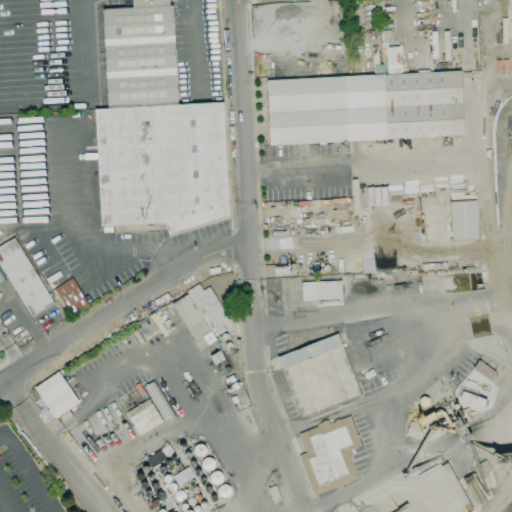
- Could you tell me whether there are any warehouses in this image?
Yes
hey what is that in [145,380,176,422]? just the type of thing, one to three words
shed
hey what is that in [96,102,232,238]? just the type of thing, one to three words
warehouse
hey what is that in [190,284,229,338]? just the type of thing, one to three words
building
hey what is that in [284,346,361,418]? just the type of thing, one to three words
building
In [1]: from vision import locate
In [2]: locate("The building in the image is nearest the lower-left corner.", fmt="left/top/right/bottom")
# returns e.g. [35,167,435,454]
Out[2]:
[35,372,81,420]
